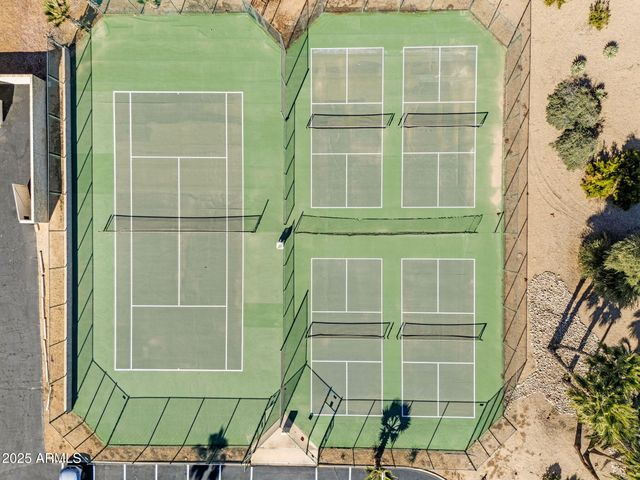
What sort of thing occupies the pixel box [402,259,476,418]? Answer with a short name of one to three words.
sports court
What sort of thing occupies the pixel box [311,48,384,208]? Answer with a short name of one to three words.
sports court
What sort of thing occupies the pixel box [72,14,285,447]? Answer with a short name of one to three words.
tennis court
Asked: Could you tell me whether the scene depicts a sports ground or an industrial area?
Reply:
sports ground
